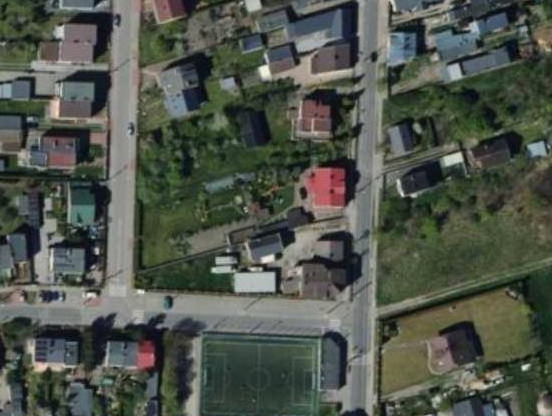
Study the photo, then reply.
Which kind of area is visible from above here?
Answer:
residential area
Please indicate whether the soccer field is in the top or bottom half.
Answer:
bottom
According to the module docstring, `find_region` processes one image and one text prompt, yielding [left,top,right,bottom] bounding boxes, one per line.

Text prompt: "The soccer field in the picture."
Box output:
[199,333,320,416]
